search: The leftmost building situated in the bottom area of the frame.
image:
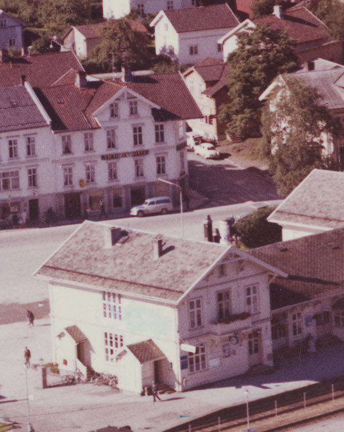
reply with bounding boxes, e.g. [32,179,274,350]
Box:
[34,218,286,397]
